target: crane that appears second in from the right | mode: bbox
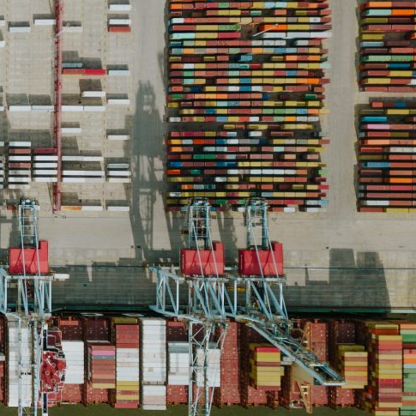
[142,199,227,416]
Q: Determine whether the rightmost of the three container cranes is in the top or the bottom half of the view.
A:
bottom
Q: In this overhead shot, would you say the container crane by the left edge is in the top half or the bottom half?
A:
bottom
